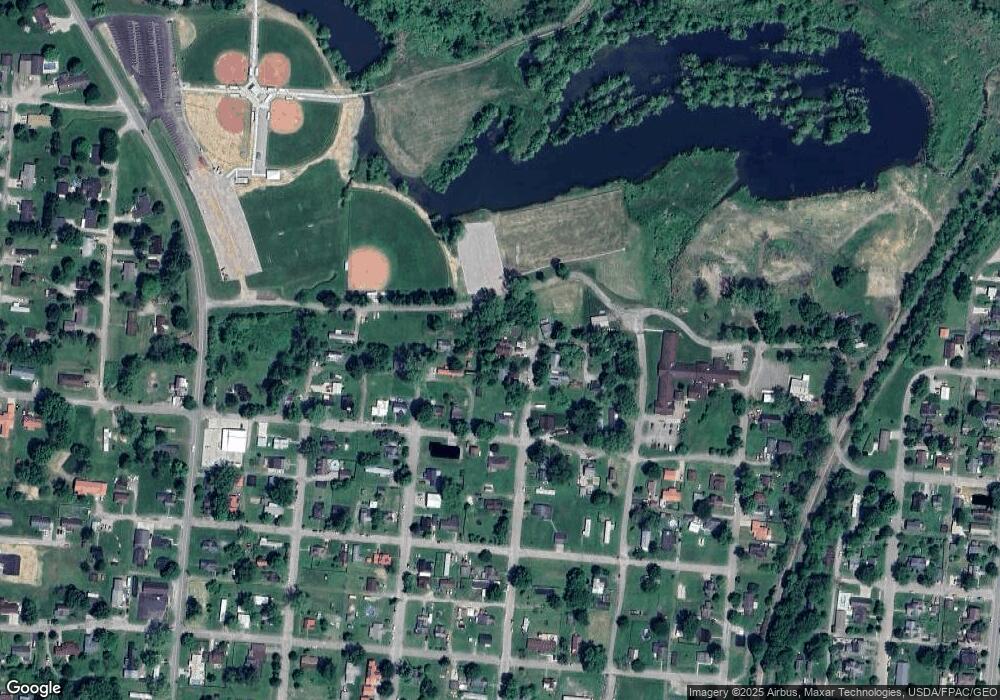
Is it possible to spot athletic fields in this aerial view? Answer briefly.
Yes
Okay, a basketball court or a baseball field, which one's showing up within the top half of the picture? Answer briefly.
baseball field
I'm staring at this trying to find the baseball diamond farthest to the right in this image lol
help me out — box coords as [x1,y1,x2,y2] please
[348,183,450,293]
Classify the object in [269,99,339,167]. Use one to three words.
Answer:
baseball field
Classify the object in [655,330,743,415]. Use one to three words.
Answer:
building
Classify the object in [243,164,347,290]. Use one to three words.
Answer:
sports field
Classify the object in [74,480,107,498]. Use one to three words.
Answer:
house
